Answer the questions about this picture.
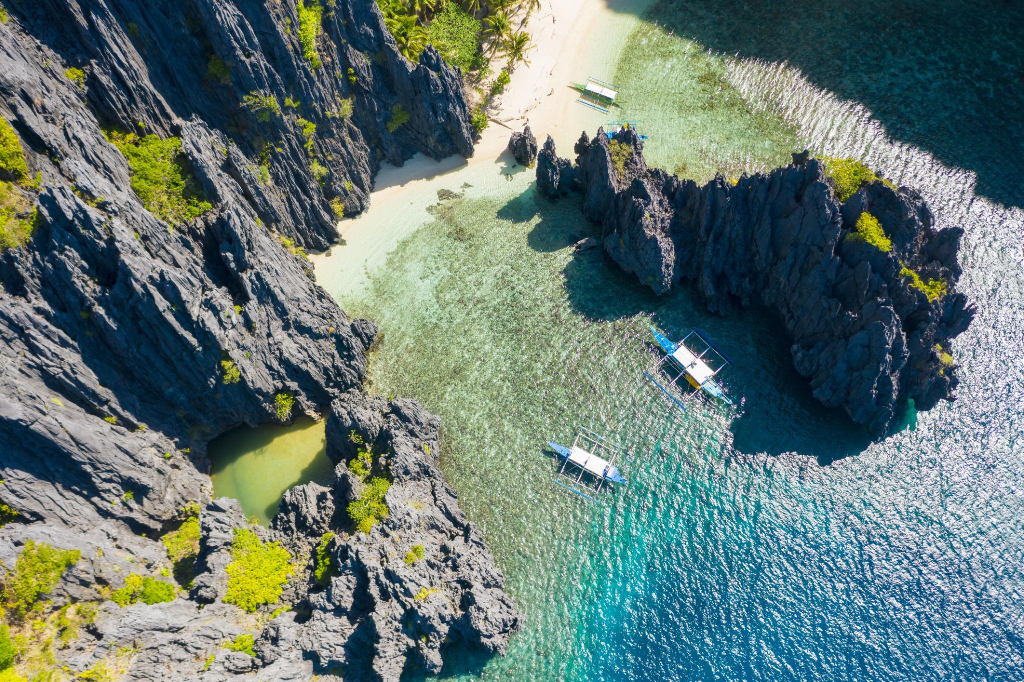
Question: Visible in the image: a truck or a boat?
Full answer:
The image shows a boat.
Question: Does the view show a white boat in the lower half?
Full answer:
Yes, I can see a white boat in the lower half.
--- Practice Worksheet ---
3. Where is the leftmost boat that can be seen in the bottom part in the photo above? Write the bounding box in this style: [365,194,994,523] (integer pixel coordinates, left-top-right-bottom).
[548,431,628,498]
